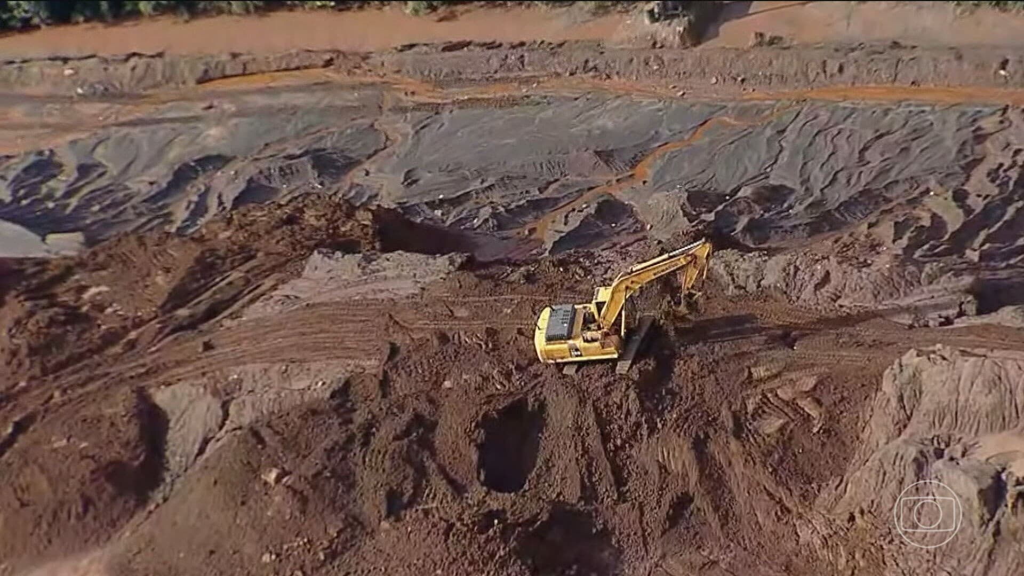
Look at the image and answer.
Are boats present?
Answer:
No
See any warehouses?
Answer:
No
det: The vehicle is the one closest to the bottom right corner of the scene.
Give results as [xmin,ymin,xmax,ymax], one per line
[532,233,726,381]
